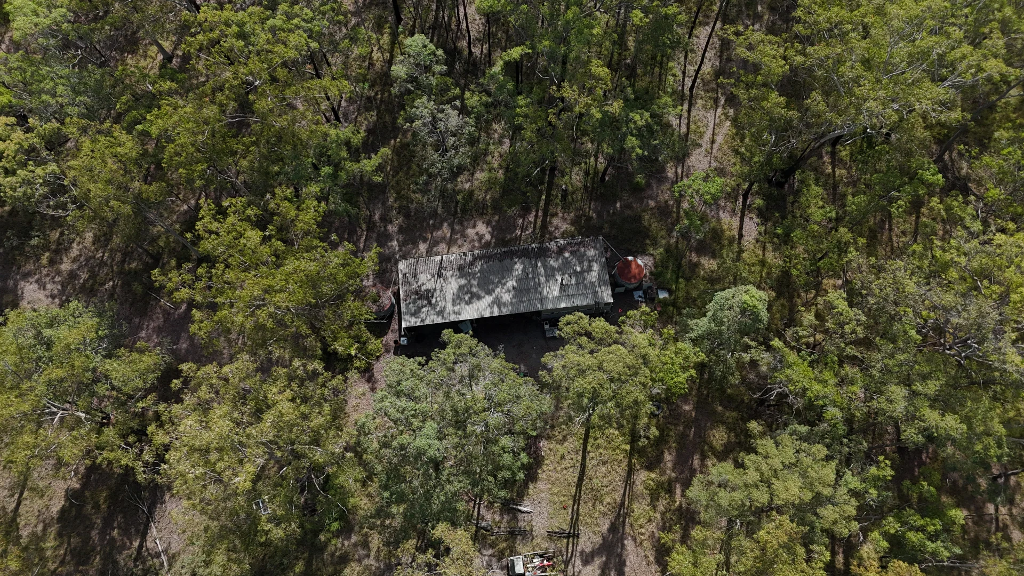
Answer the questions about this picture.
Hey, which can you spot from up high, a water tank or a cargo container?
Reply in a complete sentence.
The image shows a water tank.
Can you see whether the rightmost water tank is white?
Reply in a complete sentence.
No, the color of the rightmost water tank is red.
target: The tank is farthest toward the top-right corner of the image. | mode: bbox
[613,258,646,293]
